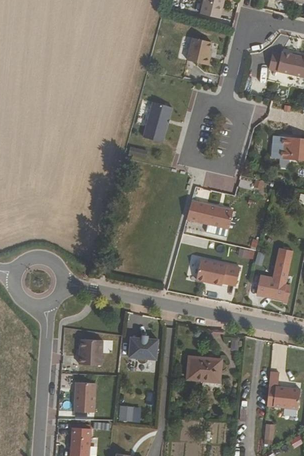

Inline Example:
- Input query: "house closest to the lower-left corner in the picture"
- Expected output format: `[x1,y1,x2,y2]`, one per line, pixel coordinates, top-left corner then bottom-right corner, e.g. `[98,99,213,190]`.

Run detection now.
[70,428,92,456]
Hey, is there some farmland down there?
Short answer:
Yes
